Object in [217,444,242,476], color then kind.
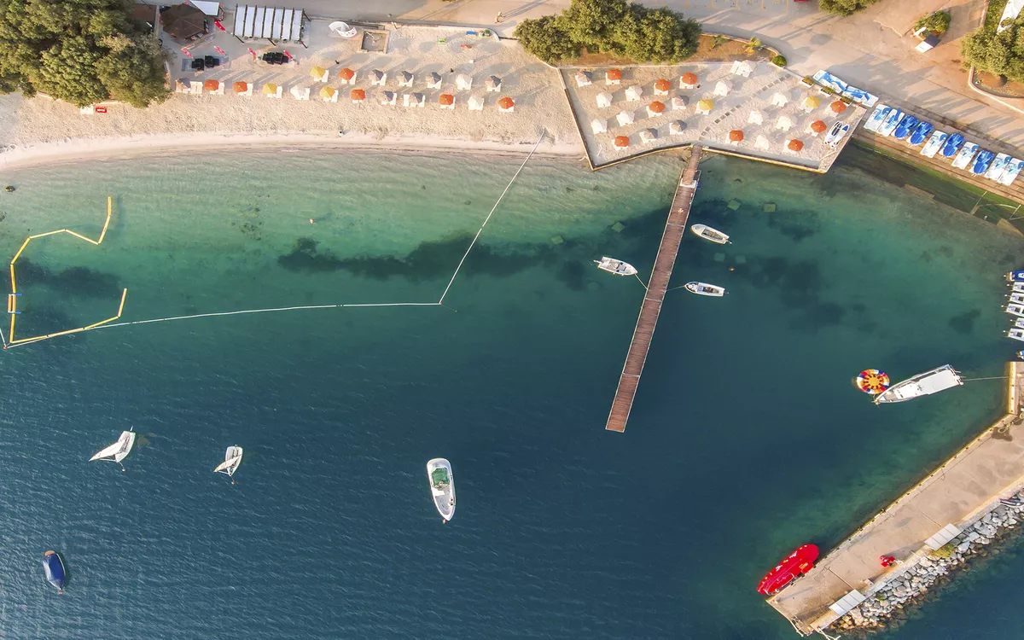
white boat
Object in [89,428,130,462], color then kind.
white boat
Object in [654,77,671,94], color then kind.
orange umbrella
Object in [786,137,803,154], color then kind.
orange umbrella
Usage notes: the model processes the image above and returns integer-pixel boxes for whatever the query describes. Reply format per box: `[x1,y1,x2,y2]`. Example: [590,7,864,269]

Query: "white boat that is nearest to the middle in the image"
[591,257,638,277]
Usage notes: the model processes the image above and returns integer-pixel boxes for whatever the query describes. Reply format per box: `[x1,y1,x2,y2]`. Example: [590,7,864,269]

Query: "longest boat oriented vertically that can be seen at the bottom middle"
[427,458,453,520]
